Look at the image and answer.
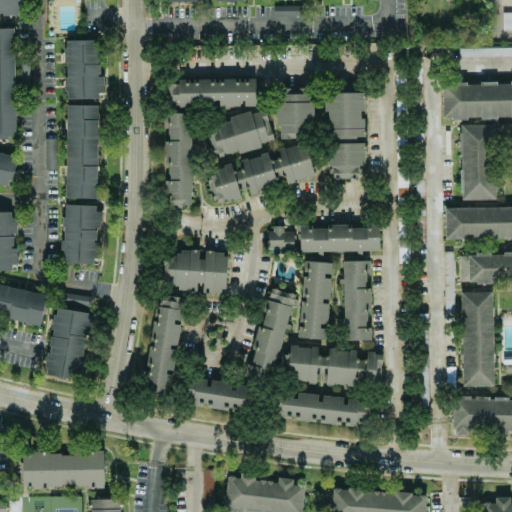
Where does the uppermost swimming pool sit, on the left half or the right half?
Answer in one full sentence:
The uppermost swimming pool appears in the left half of the scene.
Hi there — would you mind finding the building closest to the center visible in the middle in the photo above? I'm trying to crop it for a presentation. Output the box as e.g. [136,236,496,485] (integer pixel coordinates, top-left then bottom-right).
[268,226,296,252]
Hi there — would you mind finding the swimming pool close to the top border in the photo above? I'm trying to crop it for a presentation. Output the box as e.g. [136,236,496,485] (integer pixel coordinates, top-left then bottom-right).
[48,0,82,37]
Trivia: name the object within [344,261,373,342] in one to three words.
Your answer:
building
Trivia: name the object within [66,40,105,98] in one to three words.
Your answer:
building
